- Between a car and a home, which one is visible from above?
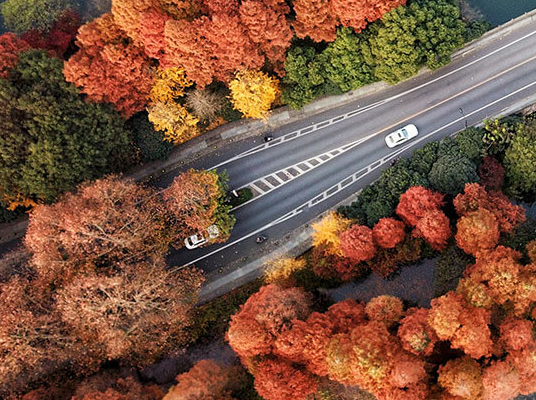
car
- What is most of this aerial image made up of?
trees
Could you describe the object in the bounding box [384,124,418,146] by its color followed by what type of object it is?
white car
